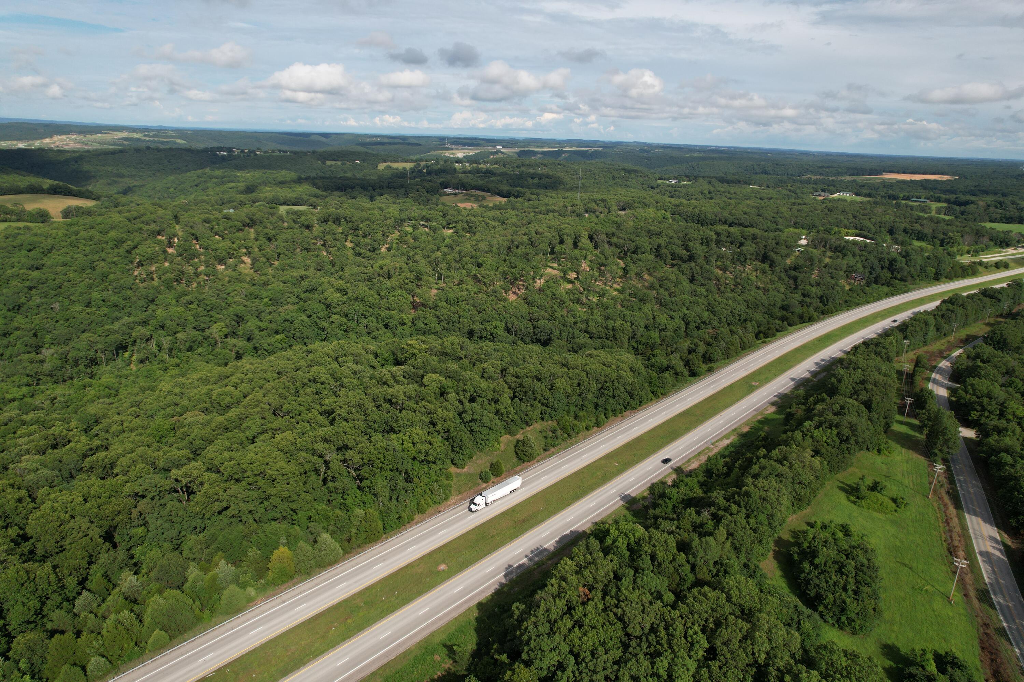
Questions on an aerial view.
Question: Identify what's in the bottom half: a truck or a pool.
truck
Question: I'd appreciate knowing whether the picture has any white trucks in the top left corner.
No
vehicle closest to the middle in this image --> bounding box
[469,475,521,510]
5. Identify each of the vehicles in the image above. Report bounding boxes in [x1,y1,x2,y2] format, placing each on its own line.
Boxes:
[469,475,521,510]
[663,457,673,463]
